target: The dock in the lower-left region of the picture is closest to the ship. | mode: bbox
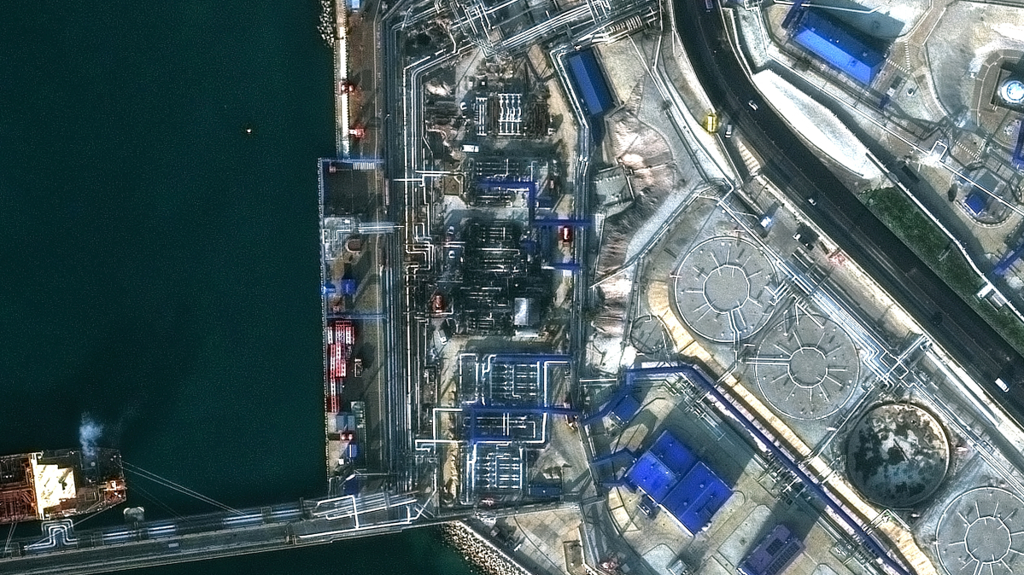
[0,490,447,575]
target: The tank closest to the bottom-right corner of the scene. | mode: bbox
[936,489,1024,575]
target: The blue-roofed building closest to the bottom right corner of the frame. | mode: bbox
[738,525,804,575]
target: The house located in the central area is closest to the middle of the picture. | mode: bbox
[514,298,540,327]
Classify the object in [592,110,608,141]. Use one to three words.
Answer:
building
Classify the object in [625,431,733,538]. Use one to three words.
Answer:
building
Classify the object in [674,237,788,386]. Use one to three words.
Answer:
storage tank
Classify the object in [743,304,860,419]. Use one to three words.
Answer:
storage tank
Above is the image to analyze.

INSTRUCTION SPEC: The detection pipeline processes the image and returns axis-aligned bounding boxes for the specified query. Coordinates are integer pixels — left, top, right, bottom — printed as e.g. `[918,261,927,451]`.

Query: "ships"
[0,449,126,522]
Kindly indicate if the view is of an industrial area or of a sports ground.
industrial area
